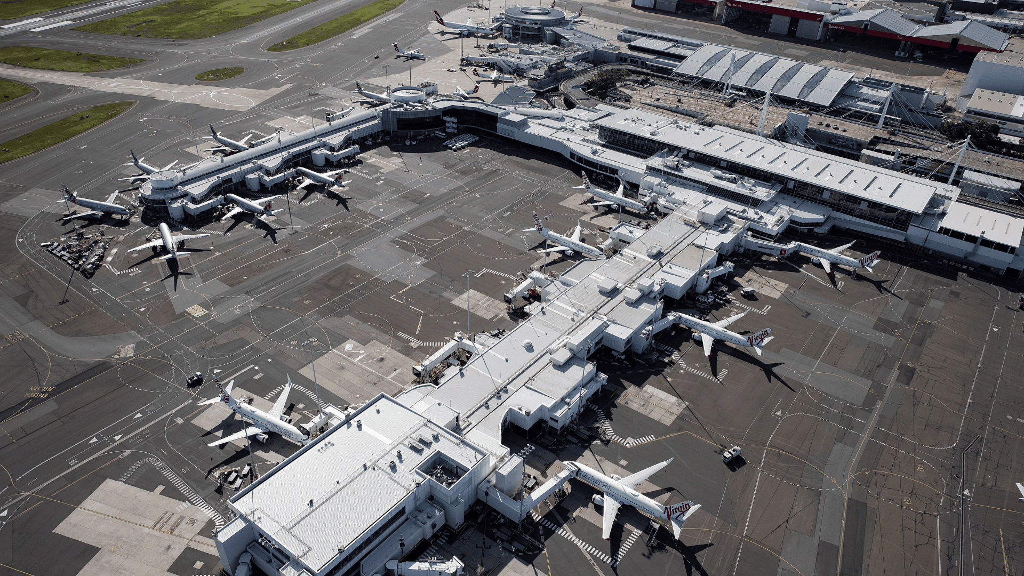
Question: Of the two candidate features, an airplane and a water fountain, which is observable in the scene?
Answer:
airplane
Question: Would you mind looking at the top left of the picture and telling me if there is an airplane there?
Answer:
Yes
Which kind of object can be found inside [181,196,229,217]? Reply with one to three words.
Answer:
jet bridge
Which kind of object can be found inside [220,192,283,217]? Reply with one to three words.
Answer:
airplane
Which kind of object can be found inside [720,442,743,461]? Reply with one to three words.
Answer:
vehicle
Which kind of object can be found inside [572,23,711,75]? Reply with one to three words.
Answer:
building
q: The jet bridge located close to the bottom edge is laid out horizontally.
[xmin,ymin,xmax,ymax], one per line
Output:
[382,548,468,576]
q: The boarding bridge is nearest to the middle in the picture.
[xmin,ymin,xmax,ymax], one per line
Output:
[501,271,556,304]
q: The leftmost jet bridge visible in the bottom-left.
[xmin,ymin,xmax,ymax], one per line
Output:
[233,543,256,576]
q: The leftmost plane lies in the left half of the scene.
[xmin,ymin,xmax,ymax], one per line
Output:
[54,184,131,219]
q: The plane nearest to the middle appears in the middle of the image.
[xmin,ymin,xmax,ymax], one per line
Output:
[524,212,605,260]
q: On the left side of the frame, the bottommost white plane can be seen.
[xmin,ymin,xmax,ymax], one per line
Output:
[199,373,313,447]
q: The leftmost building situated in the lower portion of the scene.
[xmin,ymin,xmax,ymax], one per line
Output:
[215,393,491,576]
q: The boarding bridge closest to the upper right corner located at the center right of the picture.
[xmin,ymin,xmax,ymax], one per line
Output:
[743,234,803,262]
